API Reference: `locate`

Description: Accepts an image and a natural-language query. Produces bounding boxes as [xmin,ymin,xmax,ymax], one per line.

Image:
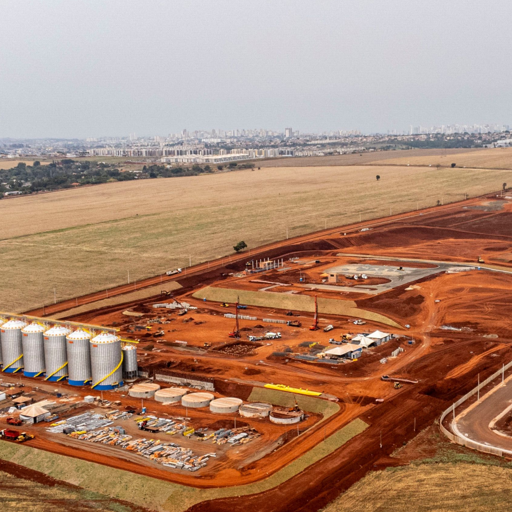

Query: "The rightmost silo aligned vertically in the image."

[120,345,138,380]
